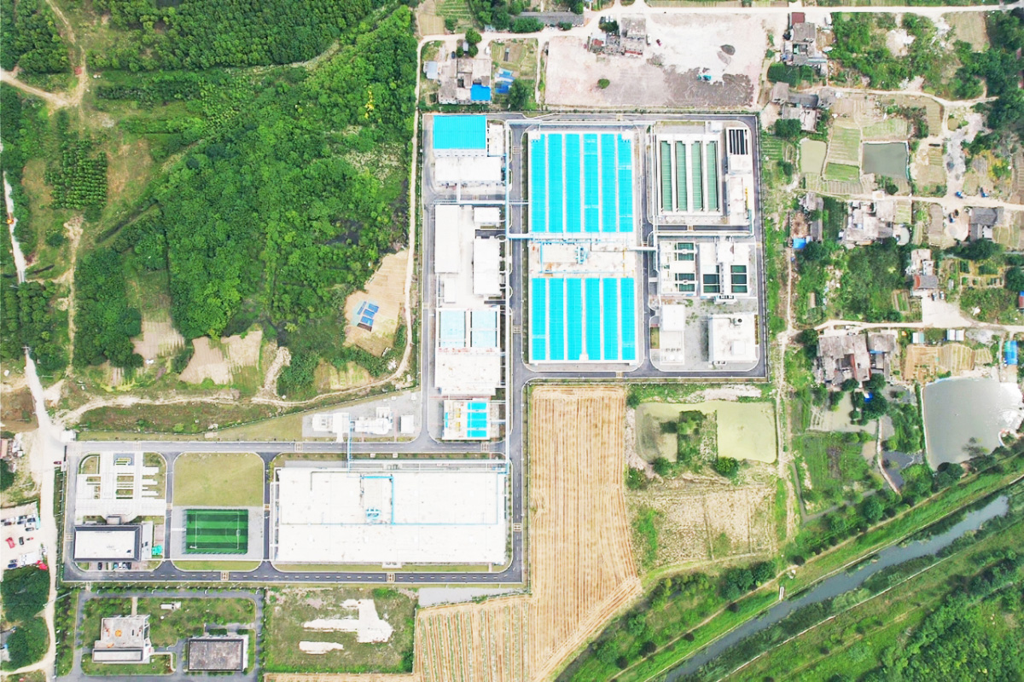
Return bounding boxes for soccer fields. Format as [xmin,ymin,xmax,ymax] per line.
[186,511,248,554]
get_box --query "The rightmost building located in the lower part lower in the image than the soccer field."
[188,635,247,672]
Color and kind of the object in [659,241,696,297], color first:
white water tank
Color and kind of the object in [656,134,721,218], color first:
white water tank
